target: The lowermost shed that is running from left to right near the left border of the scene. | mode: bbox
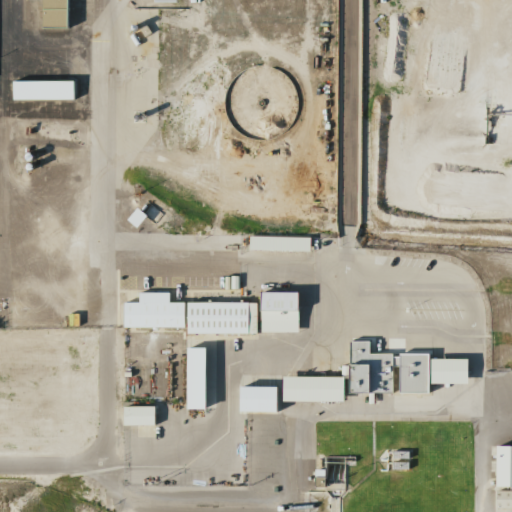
[12,80,75,100]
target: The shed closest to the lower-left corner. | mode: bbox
[123,407,156,426]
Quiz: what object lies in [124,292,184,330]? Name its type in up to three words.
building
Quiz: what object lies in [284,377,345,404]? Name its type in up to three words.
building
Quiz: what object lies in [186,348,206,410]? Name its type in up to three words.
barn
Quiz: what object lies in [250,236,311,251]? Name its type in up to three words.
shed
